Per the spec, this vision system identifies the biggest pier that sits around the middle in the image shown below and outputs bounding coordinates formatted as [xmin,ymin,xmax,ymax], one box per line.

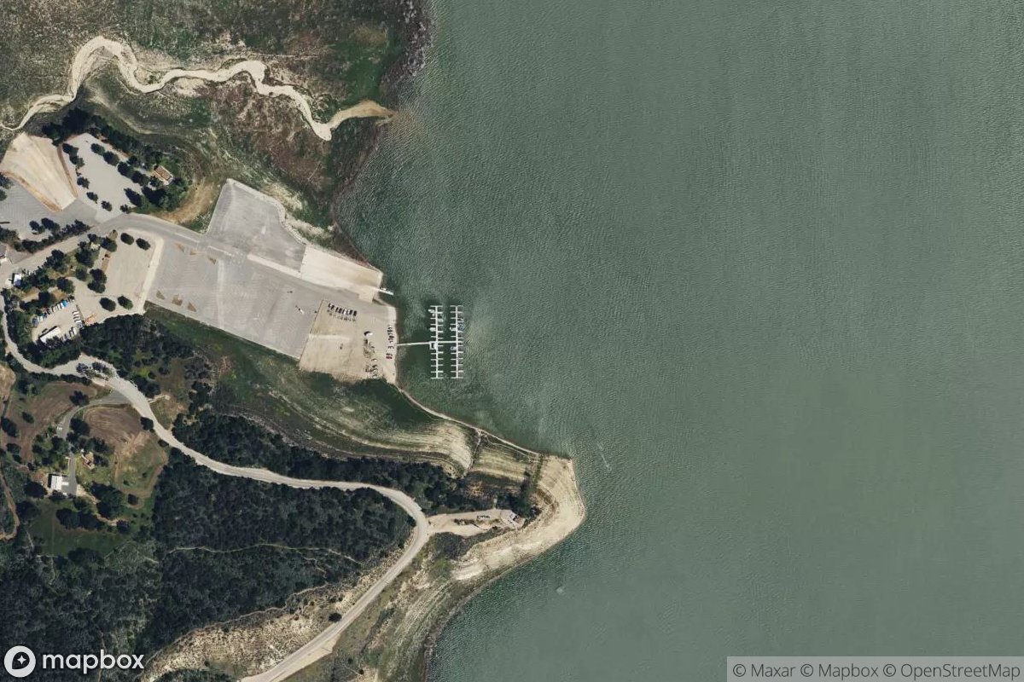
[395,305,463,379]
